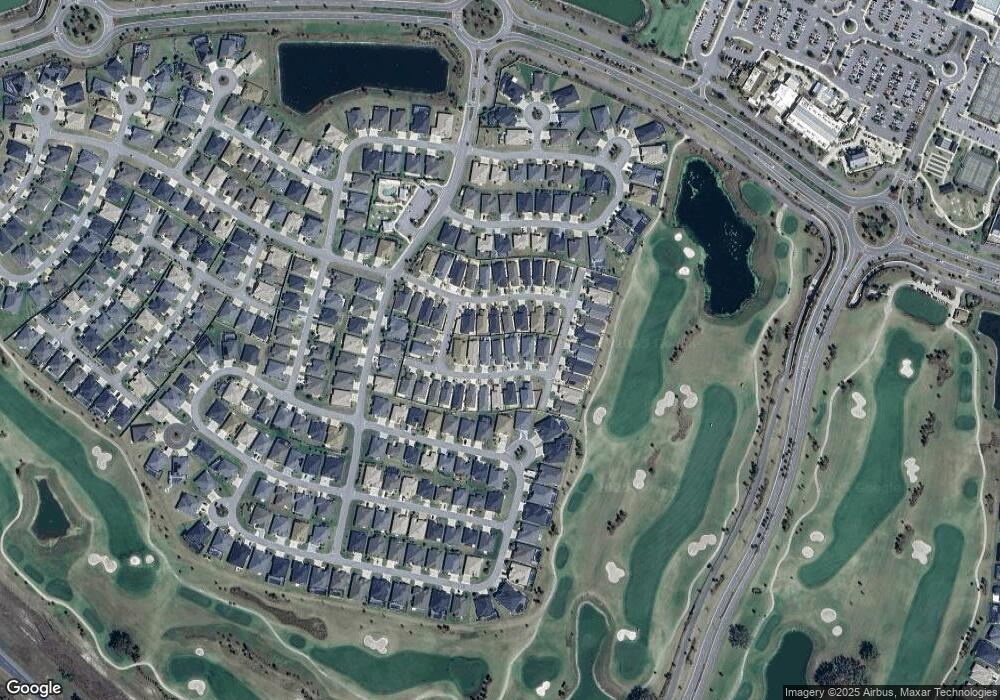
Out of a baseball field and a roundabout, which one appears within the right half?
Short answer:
roundabout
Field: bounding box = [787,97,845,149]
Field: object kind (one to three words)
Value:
building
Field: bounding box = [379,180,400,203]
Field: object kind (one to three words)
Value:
swimming pool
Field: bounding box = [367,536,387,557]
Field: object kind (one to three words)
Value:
house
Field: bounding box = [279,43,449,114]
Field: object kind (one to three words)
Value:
pond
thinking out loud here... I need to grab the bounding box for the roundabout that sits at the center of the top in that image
[453,0,513,49]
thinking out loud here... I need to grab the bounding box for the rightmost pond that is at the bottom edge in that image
[762,630,812,700]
